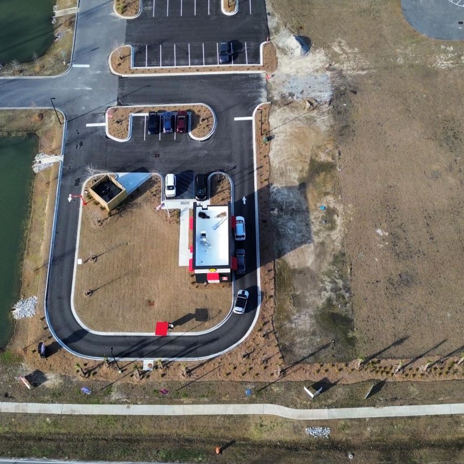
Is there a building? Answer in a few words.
Yes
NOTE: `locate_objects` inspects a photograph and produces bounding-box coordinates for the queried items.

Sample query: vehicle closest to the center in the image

[235,219,247,244]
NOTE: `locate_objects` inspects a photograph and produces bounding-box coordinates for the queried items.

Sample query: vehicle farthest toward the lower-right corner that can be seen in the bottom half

[234,289,250,318]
